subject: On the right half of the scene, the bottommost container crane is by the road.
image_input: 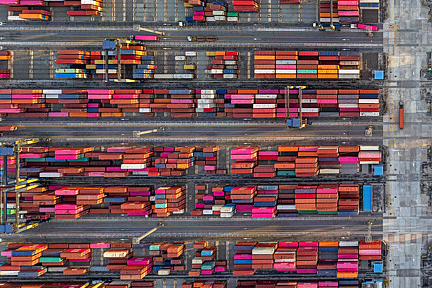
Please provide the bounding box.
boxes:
[286,83,310,127]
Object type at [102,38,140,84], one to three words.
container crane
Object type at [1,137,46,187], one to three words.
container crane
